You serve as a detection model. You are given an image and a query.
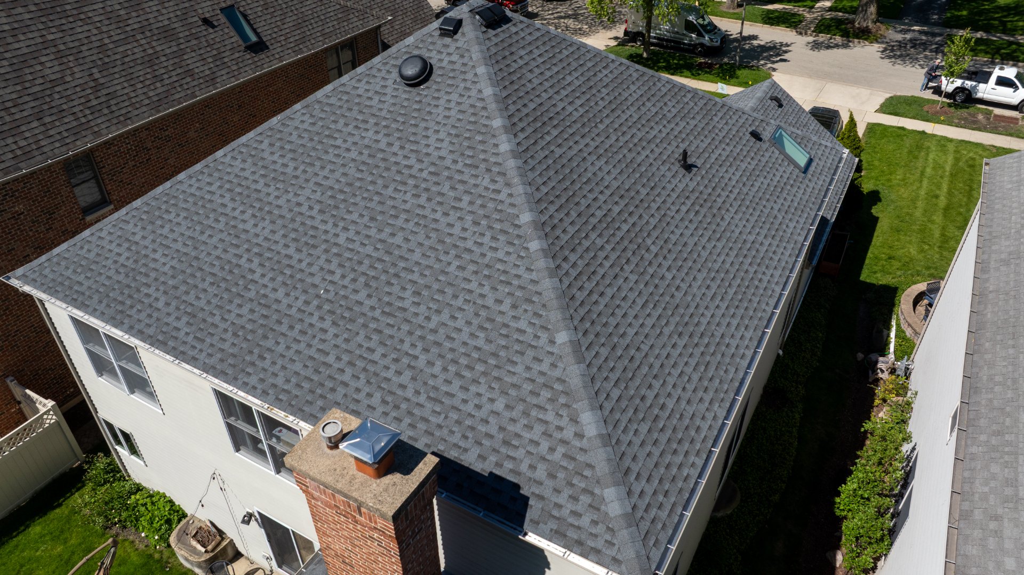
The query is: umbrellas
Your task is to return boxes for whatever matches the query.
[67,536,118,575]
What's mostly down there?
buildings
